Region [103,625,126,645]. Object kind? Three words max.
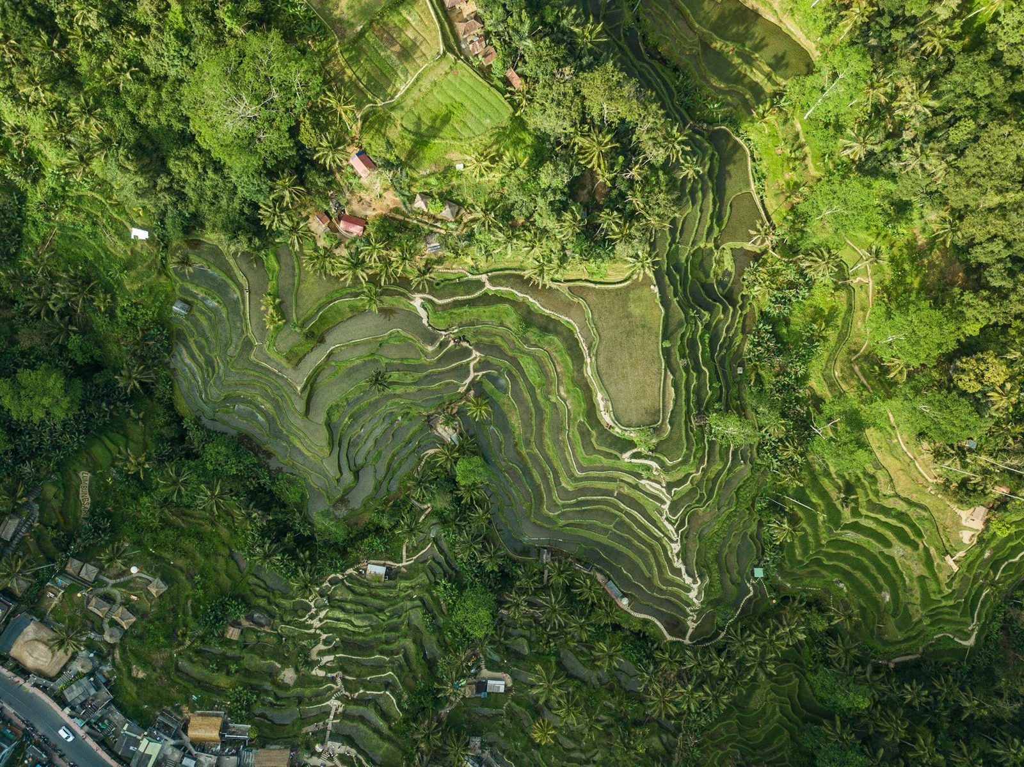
shed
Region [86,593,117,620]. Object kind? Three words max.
house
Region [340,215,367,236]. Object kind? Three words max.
house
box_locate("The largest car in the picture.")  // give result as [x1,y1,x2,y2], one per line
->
[59,725,76,741]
